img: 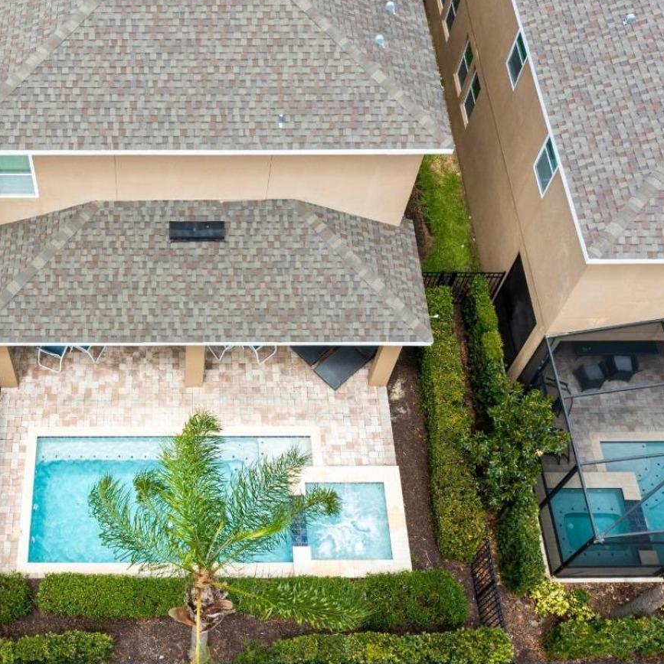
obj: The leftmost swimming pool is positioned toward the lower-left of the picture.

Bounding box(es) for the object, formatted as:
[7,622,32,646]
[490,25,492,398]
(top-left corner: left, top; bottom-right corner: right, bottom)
[18,428,322,574]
